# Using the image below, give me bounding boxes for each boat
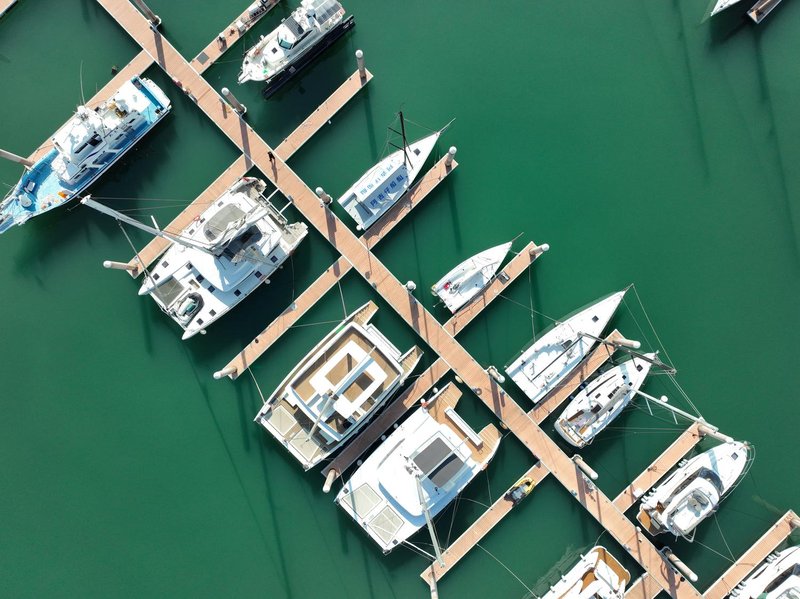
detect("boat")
[233,0,364,94]
[502,284,682,401]
[430,233,523,313]
[699,0,754,27]
[552,353,725,452]
[534,544,630,599]
[338,109,455,230]
[0,62,173,236]
[636,444,764,543]
[80,173,312,339]
[337,385,503,568]
[505,476,537,505]
[171,293,201,327]
[255,300,420,468]
[720,545,800,599]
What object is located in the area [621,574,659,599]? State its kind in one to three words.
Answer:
pier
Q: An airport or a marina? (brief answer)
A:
marina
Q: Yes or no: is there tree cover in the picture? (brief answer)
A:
No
